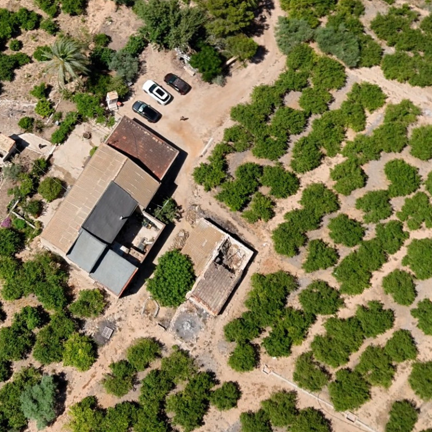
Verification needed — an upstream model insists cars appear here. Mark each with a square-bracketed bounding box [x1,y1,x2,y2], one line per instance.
[129,98,164,126]
[138,78,173,109]
[161,72,194,98]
